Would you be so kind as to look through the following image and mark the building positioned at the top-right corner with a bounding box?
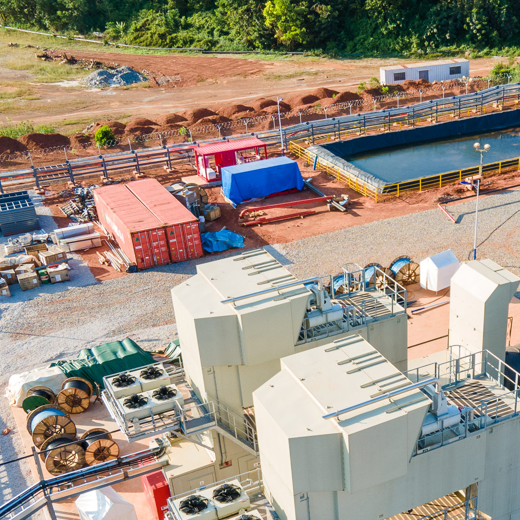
[380,55,476,88]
